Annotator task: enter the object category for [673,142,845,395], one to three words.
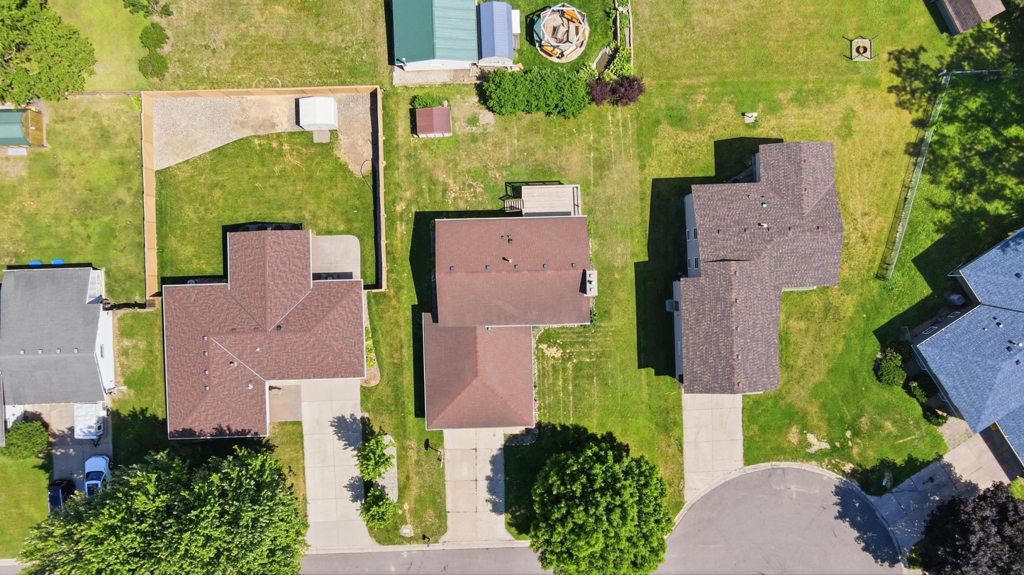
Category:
house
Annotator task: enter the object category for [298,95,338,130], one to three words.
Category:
shed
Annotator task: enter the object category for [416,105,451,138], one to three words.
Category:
shed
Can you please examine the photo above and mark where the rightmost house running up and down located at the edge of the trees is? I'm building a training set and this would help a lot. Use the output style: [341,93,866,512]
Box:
[909,216,1024,478]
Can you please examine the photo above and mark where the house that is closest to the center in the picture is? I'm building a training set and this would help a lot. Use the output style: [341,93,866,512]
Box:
[423,184,598,430]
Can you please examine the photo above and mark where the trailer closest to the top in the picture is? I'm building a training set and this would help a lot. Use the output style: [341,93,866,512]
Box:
[75,403,112,449]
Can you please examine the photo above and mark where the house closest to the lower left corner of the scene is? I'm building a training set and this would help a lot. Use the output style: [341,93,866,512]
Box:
[0,267,117,446]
